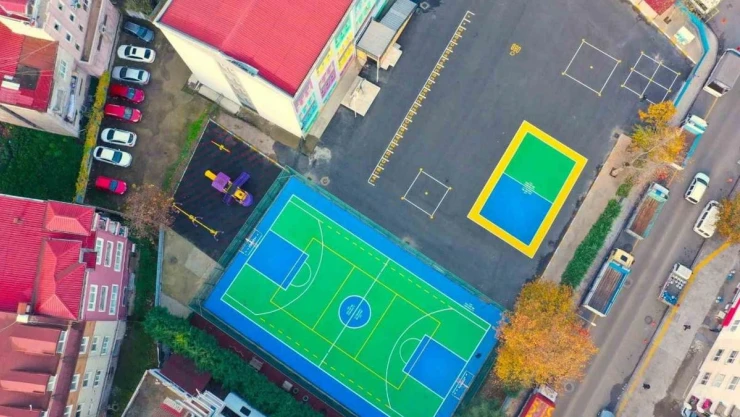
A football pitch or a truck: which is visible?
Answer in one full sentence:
I can see a truck in this picture.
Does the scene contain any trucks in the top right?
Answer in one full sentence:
Yes, looking in the top right, one can make out a truck.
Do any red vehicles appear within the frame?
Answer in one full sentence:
Yes, you can see a red vehicle in this photo.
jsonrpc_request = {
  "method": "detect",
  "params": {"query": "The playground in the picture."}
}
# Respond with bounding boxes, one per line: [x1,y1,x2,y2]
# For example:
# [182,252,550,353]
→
[160,119,285,263]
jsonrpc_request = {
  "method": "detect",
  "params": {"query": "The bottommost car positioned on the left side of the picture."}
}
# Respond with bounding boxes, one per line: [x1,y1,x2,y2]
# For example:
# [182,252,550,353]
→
[94,175,130,197]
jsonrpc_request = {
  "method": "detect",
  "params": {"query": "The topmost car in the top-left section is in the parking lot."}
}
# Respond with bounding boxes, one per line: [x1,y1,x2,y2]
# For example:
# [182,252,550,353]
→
[121,20,157,45]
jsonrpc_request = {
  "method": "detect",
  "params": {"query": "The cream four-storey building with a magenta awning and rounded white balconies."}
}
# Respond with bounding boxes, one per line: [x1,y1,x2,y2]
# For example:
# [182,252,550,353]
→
[681,305,740,417]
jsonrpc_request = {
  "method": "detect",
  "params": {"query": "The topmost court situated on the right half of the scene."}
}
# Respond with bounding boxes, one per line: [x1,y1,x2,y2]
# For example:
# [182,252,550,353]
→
[465,121,588,259]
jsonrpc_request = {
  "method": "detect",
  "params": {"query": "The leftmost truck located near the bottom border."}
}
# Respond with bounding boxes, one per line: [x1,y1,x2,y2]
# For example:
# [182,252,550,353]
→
[519,380,558,417]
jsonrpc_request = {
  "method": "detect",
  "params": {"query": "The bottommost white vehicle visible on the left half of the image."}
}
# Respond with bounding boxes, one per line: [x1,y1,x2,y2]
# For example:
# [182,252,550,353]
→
[94,145,134,168]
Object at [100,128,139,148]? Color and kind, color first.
white car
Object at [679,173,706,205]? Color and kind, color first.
white vehicle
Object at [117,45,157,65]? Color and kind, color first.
white car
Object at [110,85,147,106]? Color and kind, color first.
red car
